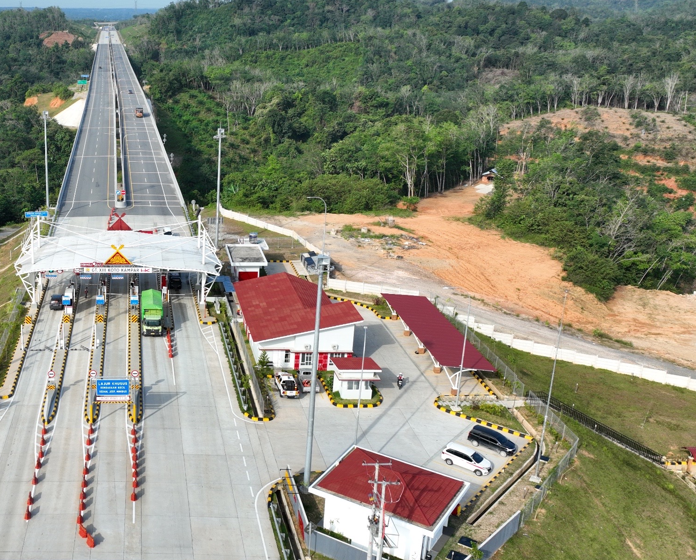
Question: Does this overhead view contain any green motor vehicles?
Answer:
Yes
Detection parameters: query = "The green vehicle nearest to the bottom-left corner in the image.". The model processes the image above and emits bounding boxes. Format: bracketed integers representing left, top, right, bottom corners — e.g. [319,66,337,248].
[140,291,165,333]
